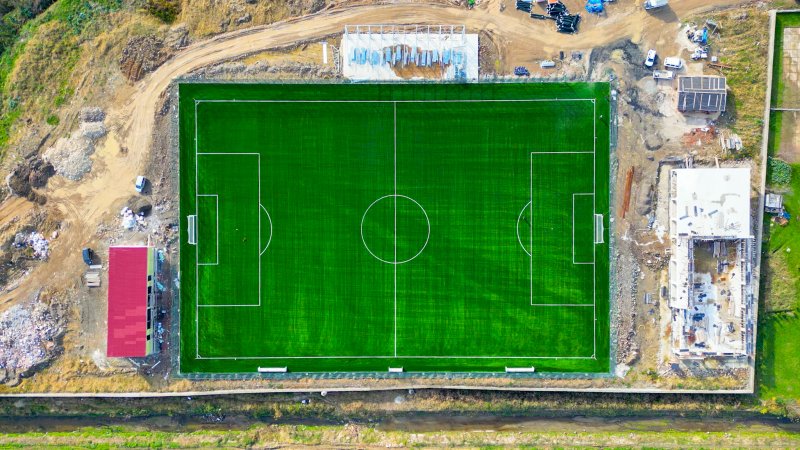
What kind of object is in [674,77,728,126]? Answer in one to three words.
shed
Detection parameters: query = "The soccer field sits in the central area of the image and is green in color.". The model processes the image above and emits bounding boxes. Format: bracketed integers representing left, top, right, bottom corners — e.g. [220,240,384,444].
[179,82,610,374]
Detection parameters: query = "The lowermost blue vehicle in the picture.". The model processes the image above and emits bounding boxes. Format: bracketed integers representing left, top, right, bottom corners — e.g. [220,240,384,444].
[80,247,94,266]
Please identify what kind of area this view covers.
sports ground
